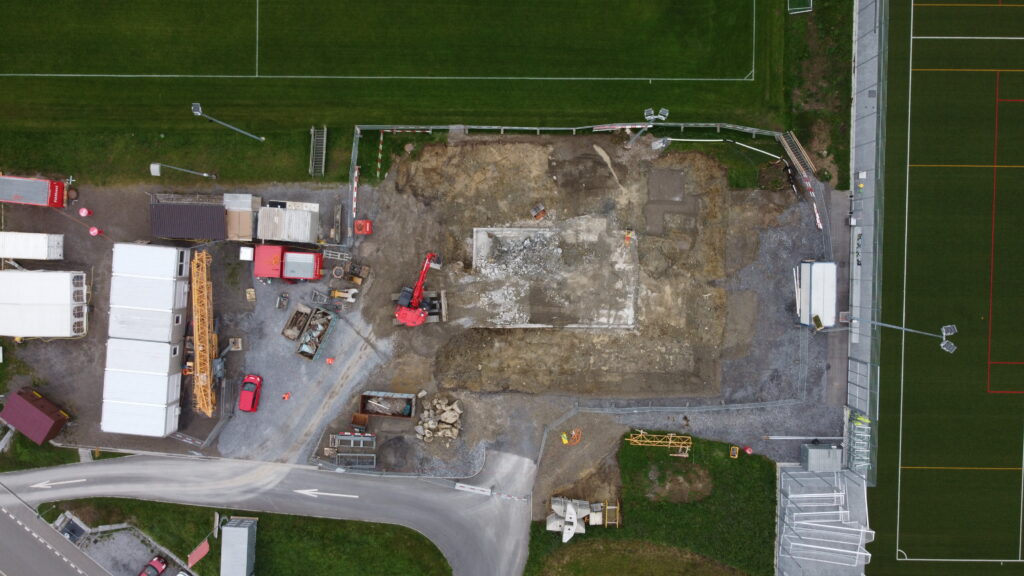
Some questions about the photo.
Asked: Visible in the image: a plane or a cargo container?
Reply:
cargo container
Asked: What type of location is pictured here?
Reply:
sports ground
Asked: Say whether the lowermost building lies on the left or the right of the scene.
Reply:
left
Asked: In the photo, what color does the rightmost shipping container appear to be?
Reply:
white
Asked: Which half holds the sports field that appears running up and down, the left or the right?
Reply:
right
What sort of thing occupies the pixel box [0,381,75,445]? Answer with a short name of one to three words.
shed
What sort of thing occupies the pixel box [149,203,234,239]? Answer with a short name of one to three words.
shed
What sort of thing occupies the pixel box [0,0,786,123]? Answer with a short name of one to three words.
soccer field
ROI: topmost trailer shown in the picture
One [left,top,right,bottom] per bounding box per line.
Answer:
[0,176,69,209]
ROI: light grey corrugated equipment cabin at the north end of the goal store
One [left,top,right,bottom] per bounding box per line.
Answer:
[801,438,843,472]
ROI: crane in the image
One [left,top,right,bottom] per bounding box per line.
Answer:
[180,252,236,418]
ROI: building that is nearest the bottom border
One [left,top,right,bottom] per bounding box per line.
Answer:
[220,511,259,576]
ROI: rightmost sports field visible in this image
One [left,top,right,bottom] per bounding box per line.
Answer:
[866,0,1024,576]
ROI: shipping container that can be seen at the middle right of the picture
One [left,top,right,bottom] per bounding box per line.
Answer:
[799,262,836,327]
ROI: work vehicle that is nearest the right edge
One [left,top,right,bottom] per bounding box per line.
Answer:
[390,250,449,327]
